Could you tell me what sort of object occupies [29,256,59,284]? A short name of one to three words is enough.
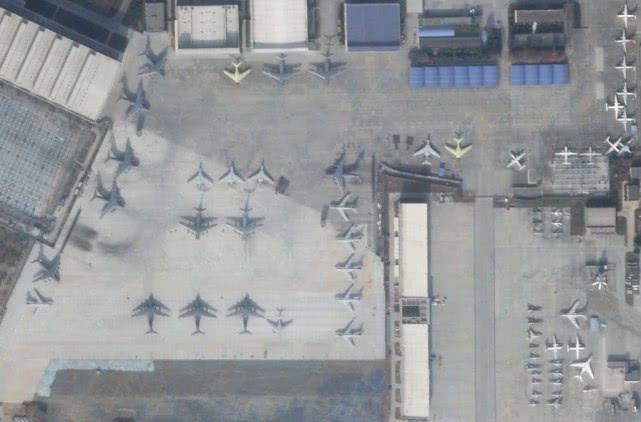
airplane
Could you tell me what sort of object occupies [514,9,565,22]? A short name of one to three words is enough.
building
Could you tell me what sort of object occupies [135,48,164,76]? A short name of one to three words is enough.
airplane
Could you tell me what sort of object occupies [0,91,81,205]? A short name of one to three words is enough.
shed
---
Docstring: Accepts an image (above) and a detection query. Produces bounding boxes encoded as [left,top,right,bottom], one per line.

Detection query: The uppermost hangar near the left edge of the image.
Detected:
[0,6,121,122]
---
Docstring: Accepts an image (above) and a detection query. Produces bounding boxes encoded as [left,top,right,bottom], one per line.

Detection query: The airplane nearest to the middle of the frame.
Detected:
[331,195,357,220]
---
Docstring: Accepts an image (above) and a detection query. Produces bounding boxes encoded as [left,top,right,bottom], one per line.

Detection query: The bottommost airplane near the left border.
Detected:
[26,292,53,316]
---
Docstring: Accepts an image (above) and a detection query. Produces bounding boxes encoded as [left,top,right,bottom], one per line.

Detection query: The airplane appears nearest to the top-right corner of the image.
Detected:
[619,5,637,27]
